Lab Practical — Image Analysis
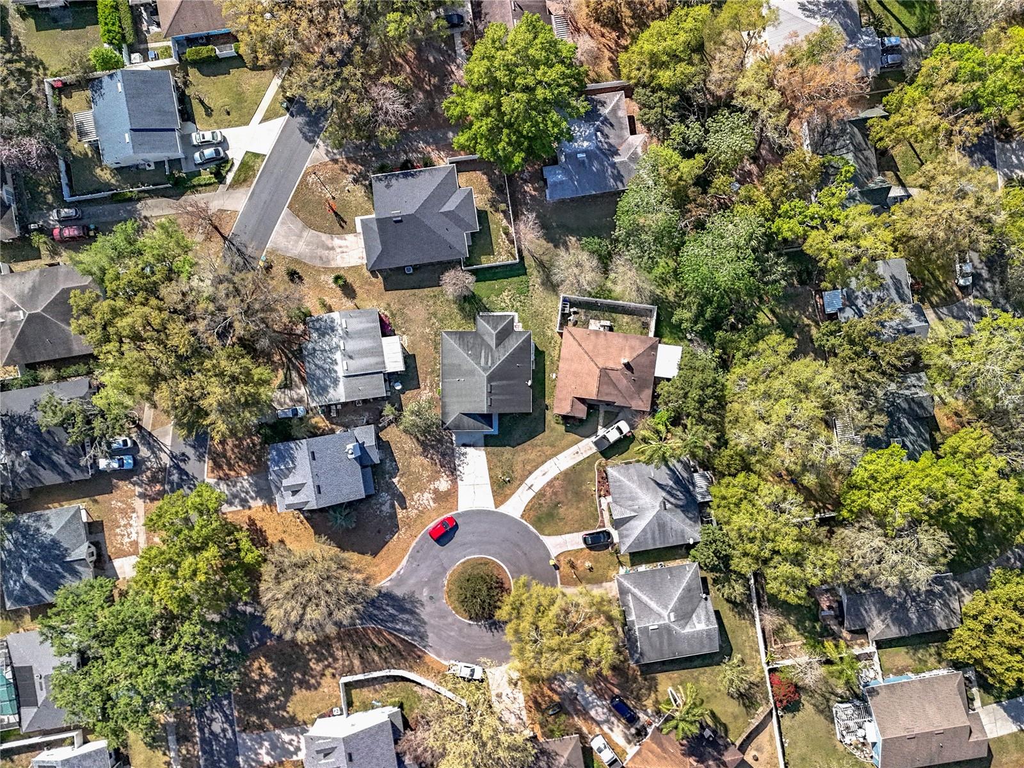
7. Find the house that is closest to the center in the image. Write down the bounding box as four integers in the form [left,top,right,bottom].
[441,314,533,431]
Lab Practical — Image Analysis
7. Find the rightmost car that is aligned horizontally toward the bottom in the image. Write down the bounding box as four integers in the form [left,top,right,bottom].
[582,530,613,545]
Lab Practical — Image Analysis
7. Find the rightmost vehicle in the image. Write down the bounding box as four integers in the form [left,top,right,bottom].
[954,255,974,288]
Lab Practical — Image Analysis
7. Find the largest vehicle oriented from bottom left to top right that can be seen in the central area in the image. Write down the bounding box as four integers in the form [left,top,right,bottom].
[590,419,633,453]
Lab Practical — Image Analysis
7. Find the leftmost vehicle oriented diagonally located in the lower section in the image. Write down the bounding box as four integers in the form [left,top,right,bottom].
[428,516,458,540]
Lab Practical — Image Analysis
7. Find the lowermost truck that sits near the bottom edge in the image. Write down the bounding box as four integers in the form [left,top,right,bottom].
[587,731,622,768]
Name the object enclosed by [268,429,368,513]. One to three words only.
house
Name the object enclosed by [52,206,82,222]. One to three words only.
car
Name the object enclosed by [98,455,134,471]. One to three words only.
car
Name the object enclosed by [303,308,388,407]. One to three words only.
house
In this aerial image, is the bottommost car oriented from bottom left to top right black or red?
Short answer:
red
